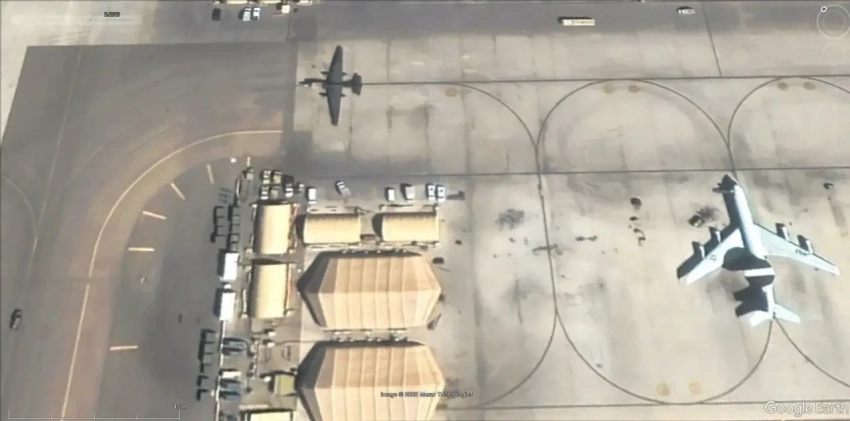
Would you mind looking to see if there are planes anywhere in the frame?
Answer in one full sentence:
Yes, this view includes a plane.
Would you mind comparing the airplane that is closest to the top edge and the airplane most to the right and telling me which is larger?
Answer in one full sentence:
It is the airplane most to the right that is larger, not the airplane that is closest to the top edge.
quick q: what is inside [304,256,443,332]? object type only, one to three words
hangar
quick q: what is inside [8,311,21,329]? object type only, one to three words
vehicle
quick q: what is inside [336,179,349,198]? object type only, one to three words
vehicle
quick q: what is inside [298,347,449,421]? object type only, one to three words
hangar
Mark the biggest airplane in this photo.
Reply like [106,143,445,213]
[678,176,834,326]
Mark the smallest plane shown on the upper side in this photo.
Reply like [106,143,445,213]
[301,47,362,125]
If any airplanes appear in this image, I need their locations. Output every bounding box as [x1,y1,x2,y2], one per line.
[678,176,834,326]
[301,47,362,125]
